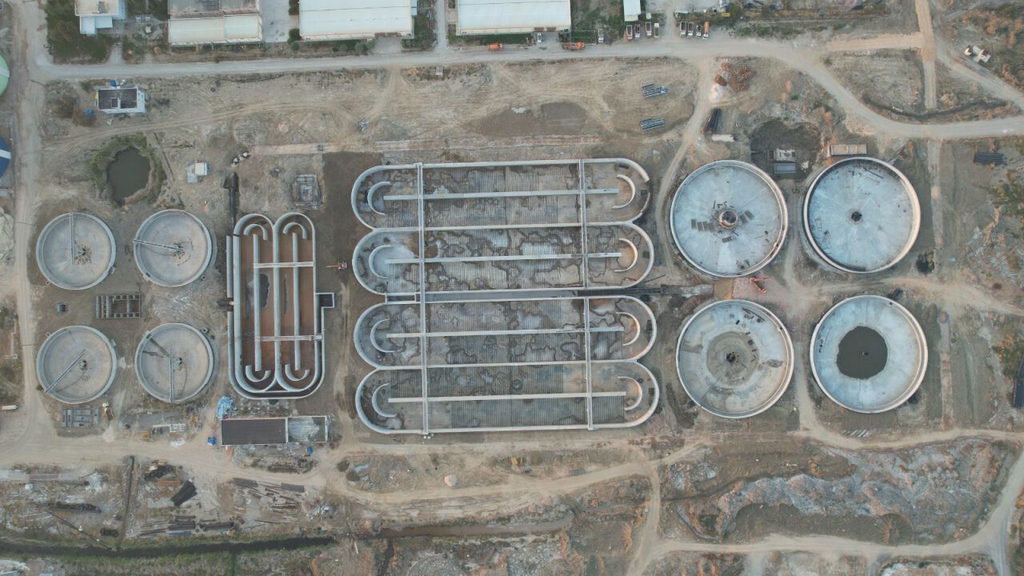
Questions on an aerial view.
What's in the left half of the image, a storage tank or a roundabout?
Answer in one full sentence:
What appears in the left half of the image is a storage tank.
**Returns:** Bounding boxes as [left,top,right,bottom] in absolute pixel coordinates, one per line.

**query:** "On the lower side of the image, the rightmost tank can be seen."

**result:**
[809,295,928,412]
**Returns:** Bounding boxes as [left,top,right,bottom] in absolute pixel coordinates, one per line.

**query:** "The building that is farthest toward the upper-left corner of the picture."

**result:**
[74,0,128,38]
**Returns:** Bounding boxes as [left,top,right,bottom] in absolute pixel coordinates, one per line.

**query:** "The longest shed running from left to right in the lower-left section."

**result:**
[221,414,330,446]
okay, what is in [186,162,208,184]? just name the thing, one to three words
building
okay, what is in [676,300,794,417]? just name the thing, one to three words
storage tank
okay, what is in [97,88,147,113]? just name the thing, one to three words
house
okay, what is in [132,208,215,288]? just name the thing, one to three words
storage tank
